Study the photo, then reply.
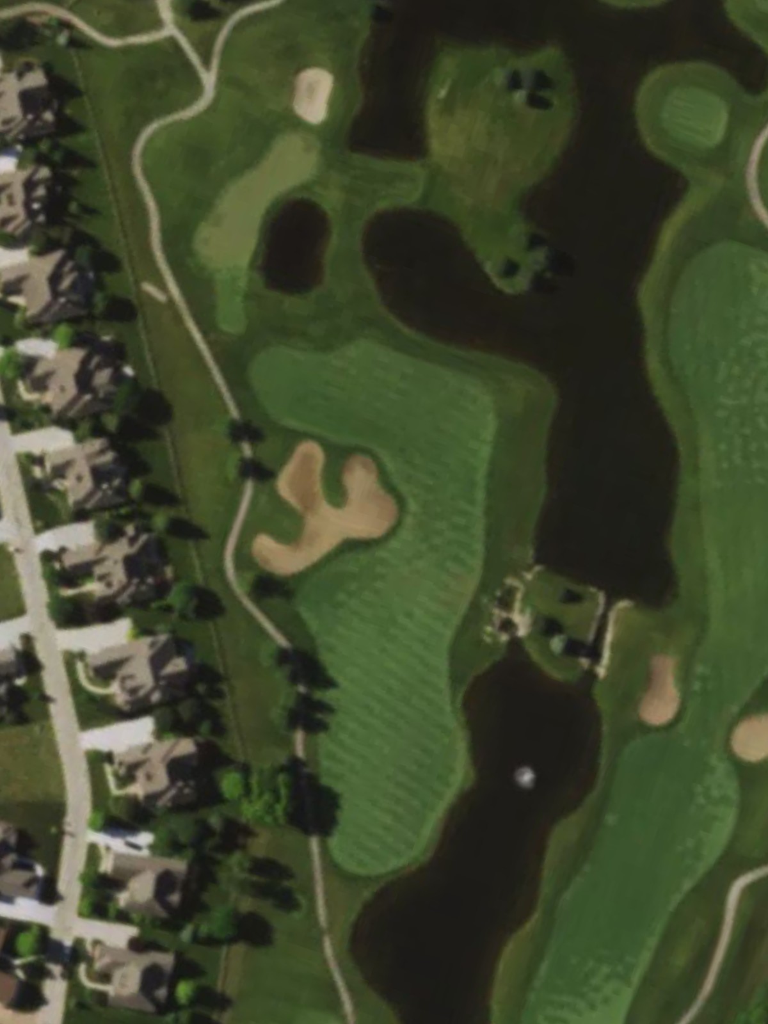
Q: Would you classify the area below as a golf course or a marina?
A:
golf course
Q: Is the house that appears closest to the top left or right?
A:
left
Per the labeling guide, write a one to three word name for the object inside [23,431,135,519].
house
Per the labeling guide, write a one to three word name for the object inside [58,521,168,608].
house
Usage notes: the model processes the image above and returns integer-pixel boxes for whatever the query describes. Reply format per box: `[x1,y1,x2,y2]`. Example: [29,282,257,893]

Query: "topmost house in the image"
[0,57,62,144]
